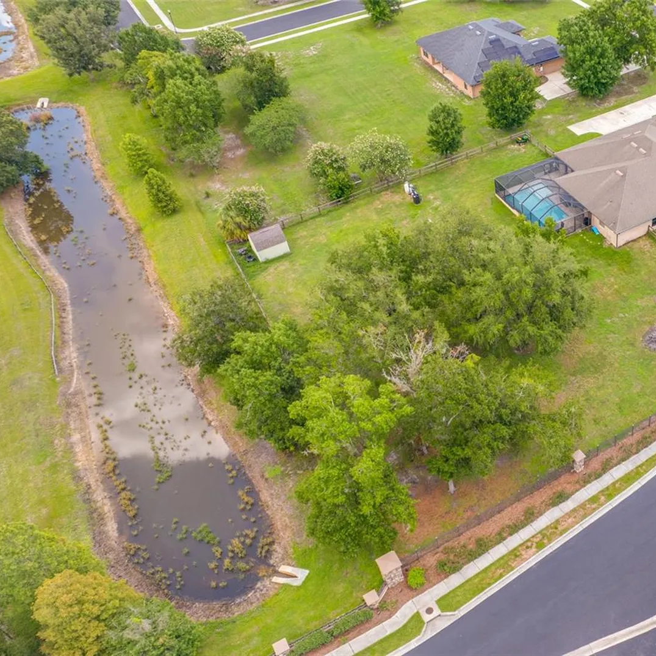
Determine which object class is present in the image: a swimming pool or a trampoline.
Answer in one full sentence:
I can see a swimming pool in this picture.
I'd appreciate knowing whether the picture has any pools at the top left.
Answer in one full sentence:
No, I see no pool at the top left.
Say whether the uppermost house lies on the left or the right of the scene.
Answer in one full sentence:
The uppermost house is on the right side of the image.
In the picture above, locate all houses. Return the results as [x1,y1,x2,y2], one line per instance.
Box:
[548,116,656,247]
[414,16,564,97]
